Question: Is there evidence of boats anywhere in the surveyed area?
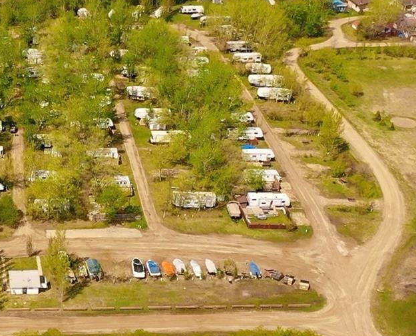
Yes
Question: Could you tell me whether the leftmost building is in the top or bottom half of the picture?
bottom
